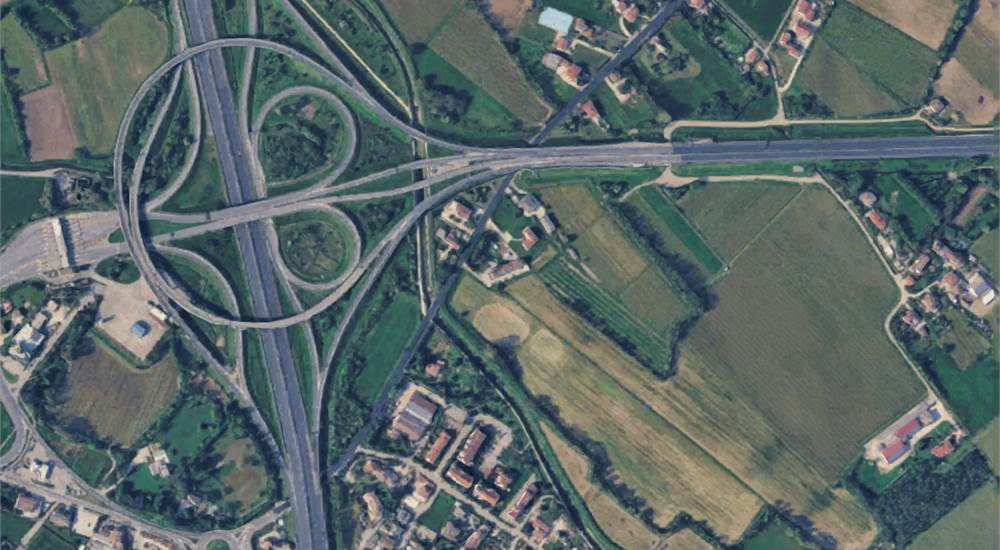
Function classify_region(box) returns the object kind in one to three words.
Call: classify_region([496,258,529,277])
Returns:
house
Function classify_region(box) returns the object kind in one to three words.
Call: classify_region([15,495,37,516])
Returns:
house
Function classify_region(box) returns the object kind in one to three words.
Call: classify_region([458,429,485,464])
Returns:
building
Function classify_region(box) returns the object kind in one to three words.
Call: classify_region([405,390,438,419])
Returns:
building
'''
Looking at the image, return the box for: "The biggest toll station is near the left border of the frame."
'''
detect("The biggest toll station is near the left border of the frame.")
[36,217,86,269]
